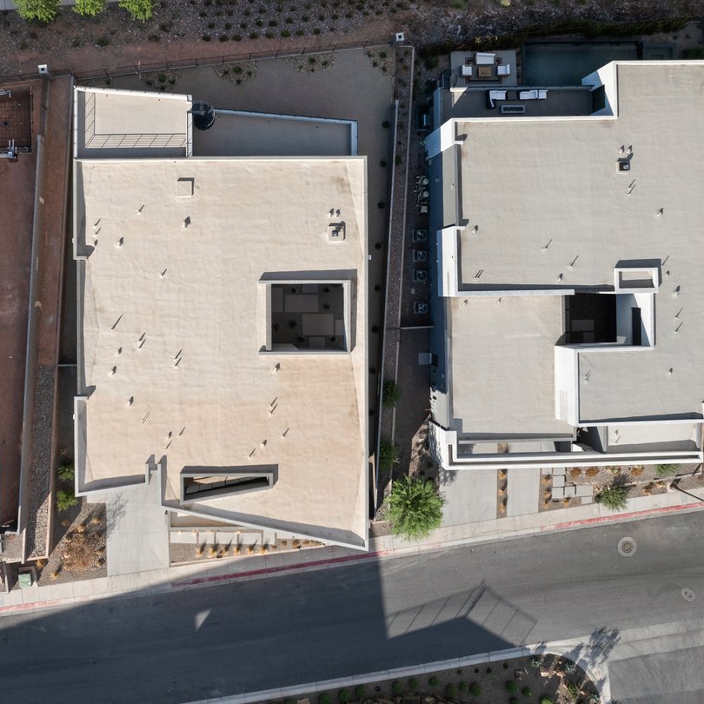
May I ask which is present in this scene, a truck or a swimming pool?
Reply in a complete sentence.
The image shows a swimming pool.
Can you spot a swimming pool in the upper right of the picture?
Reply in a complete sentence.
Yes, I can see a swimming pool in the upper right of the picture.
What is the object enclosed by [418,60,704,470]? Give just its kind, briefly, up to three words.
house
